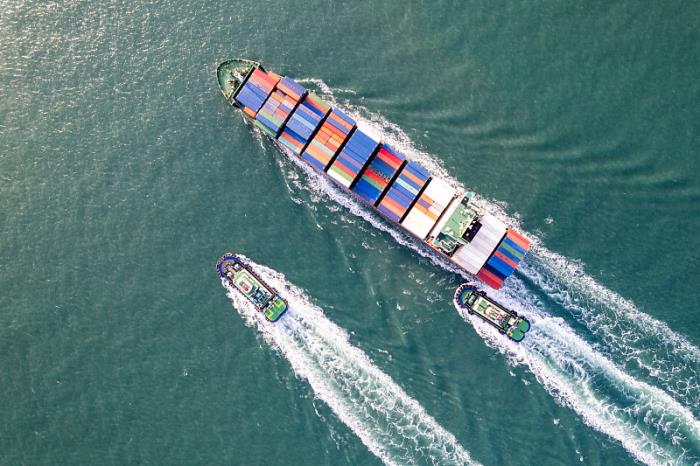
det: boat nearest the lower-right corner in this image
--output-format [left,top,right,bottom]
[455,285,530,342]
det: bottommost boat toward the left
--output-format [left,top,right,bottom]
[215,255,286,318]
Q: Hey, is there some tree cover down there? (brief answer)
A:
No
